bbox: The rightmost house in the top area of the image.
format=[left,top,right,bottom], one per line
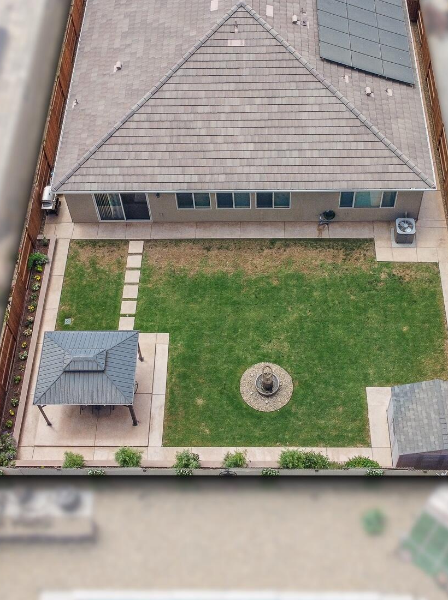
[49,0,438,223]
